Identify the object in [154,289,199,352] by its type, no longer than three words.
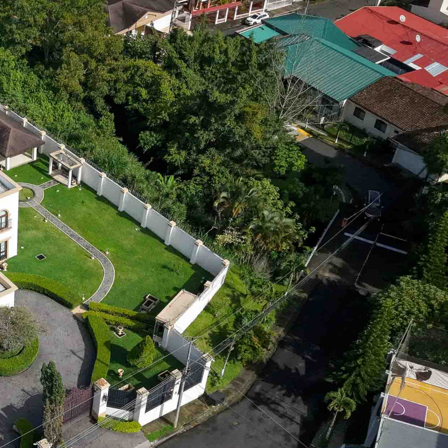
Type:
building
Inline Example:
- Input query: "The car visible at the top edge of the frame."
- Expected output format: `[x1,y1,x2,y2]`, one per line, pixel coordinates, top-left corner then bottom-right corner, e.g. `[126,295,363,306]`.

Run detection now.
[246,7,280,26]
